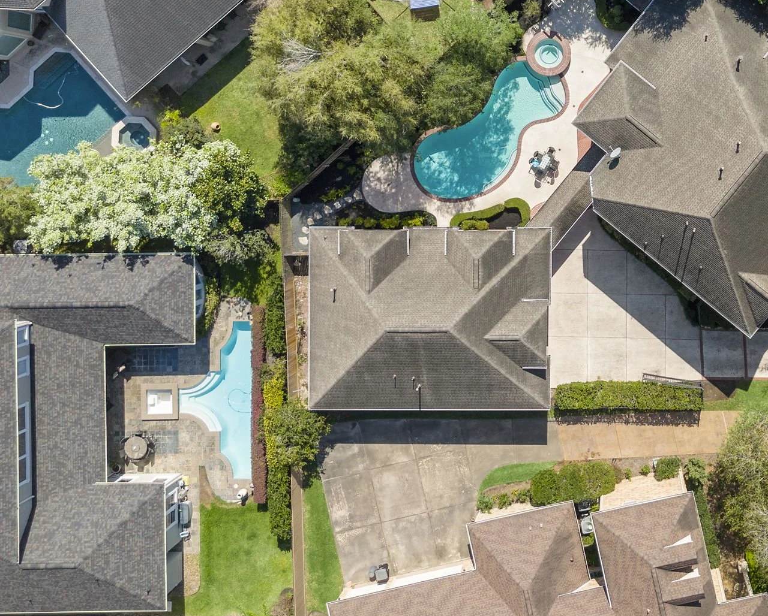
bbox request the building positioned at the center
[307,224,553,411]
